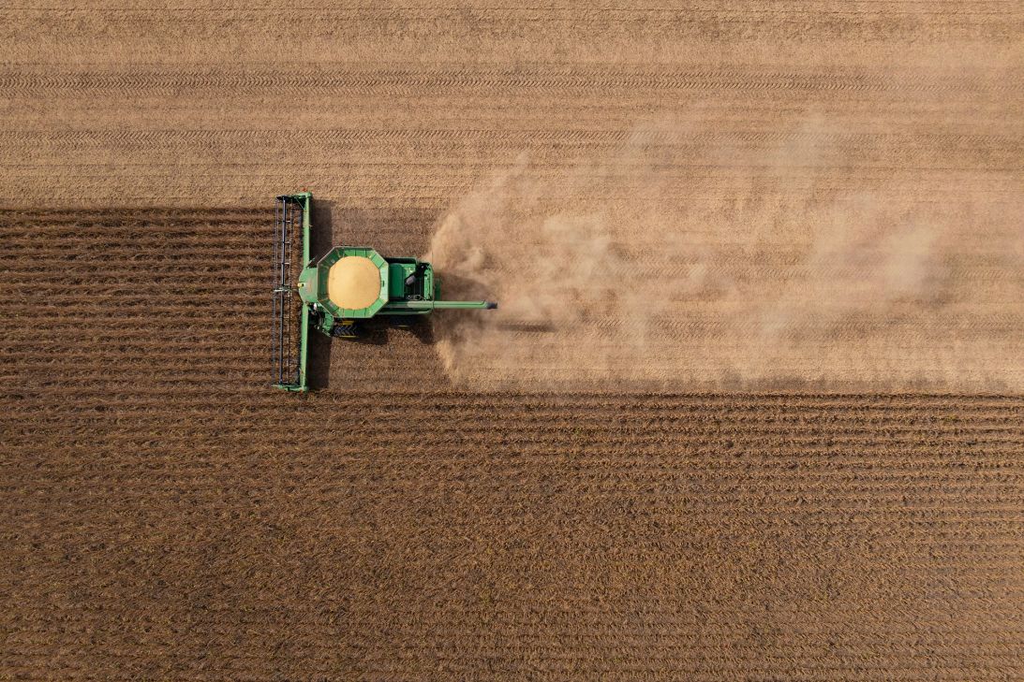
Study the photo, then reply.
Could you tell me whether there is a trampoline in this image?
No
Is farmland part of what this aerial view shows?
Yes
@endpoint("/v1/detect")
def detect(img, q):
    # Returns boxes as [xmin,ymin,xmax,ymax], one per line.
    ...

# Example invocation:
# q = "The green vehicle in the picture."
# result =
[271,188,499,392]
